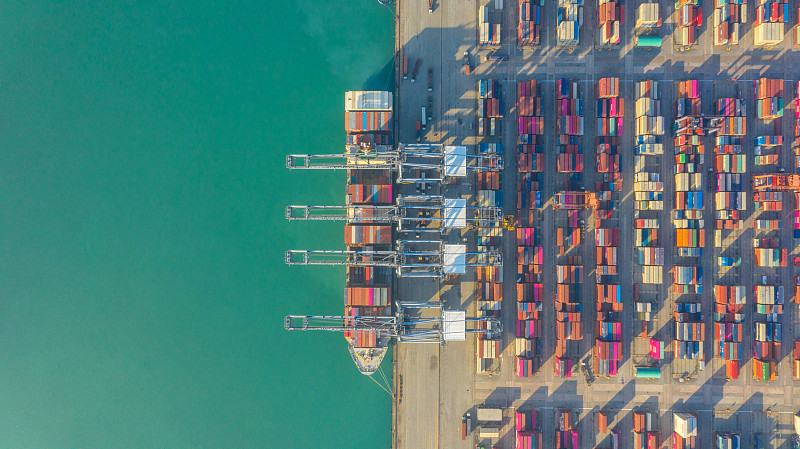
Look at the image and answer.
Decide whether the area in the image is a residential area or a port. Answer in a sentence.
This looks like a port.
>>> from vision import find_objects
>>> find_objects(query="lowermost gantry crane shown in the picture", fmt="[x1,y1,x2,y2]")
[286,293,502,345]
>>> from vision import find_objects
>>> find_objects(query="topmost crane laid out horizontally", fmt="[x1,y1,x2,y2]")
[674,113,727,137]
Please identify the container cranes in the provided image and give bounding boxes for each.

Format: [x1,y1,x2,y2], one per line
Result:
[287,192,503,235]
[674,113,727,137]
[553,192,604,212]
[288,141,503,190]
[286,234,503,280]
[755,173,800,194]
[286,293,502,345]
